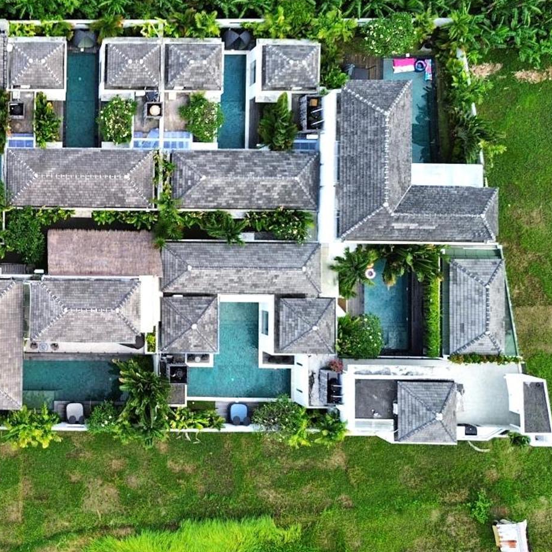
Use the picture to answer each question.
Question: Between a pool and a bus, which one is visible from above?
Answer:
pool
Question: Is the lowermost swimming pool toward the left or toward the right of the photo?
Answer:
left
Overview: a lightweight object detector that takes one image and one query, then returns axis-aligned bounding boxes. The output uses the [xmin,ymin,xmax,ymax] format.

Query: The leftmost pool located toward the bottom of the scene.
[25,359,121,410]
